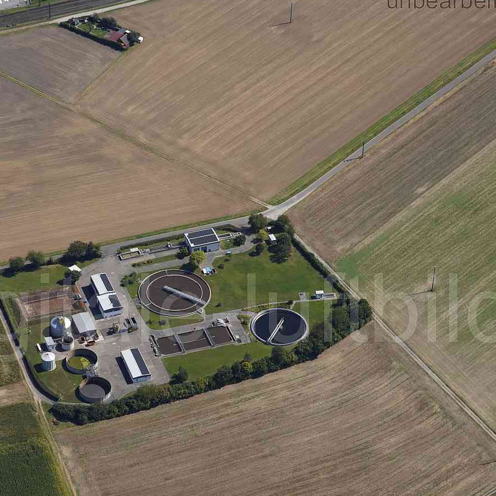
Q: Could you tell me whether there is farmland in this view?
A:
Yes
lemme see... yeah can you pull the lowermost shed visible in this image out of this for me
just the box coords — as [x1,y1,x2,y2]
[120,348,152,384]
